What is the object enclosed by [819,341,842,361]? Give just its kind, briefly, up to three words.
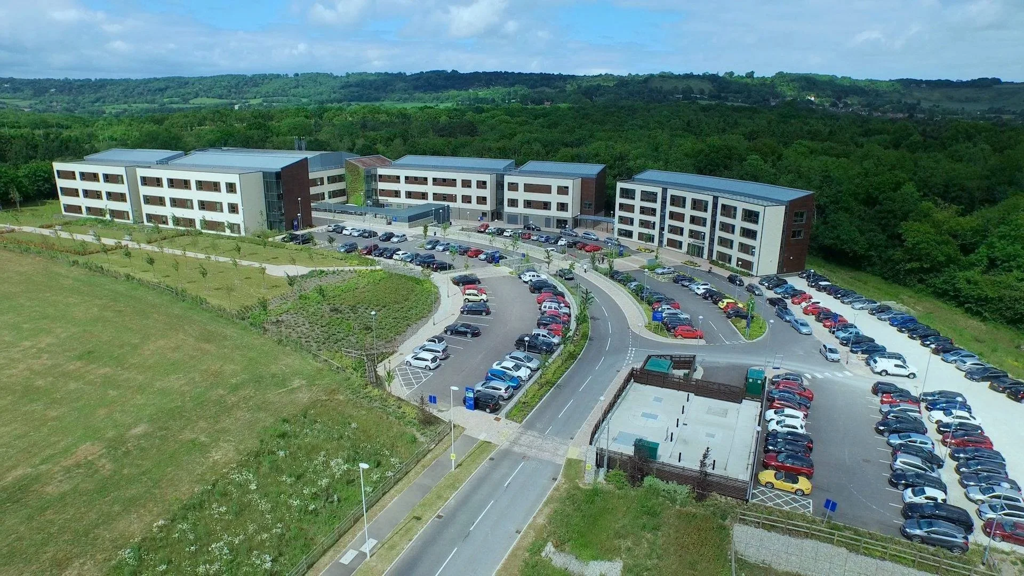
car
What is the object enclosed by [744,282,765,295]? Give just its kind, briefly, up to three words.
vehicle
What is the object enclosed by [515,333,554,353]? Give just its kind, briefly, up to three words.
car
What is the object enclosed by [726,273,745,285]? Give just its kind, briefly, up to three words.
vehicle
